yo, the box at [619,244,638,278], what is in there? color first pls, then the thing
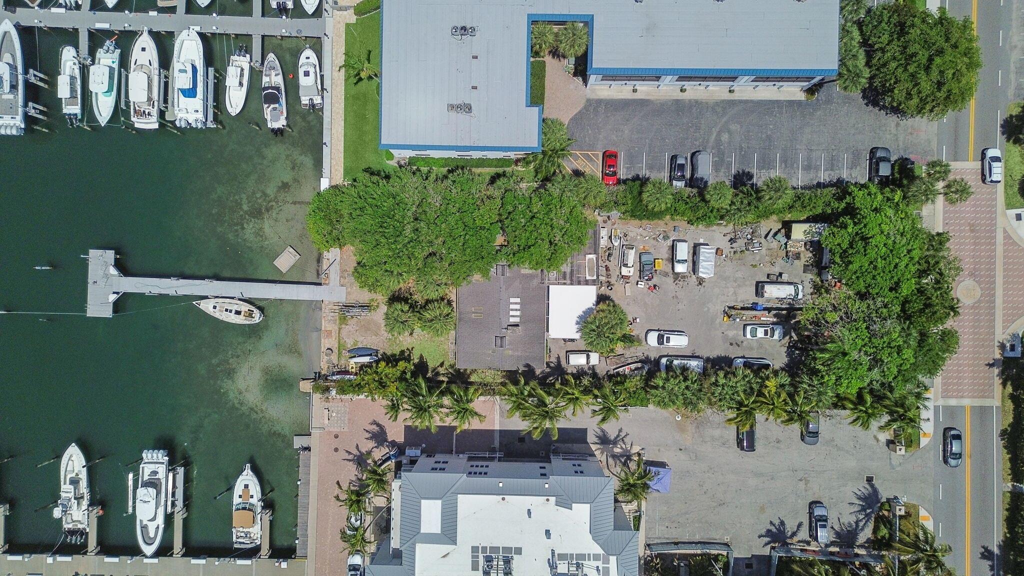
white vehicle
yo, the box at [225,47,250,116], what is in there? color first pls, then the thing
white boat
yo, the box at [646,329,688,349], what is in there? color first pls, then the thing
white car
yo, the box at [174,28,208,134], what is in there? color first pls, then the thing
white boat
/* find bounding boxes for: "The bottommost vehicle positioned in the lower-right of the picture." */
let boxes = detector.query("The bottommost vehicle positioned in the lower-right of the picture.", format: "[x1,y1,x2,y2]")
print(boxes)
[807,500,830,544]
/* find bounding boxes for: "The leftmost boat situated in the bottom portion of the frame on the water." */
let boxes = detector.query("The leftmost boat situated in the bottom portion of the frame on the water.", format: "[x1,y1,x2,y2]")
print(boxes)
[53,444,93,539]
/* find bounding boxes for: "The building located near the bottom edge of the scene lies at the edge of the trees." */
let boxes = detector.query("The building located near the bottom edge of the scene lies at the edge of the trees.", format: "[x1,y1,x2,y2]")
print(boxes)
[364,449,640,576]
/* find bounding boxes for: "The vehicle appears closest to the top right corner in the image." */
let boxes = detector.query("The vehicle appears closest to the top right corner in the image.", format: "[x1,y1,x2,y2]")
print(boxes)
[979,148,1003,187]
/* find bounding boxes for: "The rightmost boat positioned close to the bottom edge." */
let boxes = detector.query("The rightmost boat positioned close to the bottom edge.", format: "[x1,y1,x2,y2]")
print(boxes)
[232,464,262,548]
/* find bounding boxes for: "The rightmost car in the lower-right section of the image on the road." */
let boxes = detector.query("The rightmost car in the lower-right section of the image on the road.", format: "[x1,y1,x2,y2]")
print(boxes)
[941,426,963,467]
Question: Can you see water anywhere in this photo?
Yes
